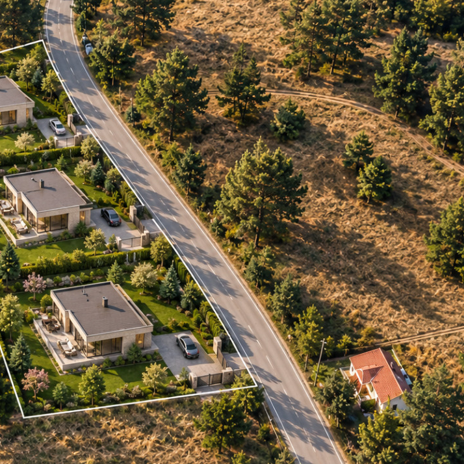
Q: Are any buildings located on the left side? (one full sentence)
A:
Yes, I can see a building on the left side.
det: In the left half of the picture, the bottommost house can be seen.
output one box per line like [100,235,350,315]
[27,281,163,379]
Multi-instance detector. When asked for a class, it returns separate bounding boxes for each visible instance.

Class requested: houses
[27,281,163,379]
[0,77,38,137]
[310,346,416,419]
[0,169,96,251]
